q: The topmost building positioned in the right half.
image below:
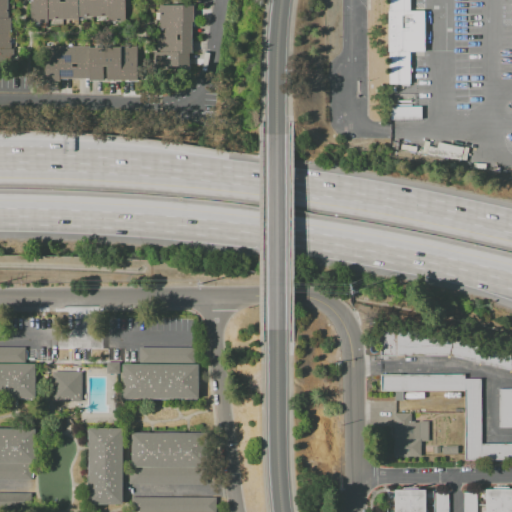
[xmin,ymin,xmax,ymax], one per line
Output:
[388,0,426,54]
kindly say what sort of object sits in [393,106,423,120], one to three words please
shed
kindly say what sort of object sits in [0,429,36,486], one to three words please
building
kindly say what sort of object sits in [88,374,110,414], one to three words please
swimming pool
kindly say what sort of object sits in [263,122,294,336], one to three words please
overpass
